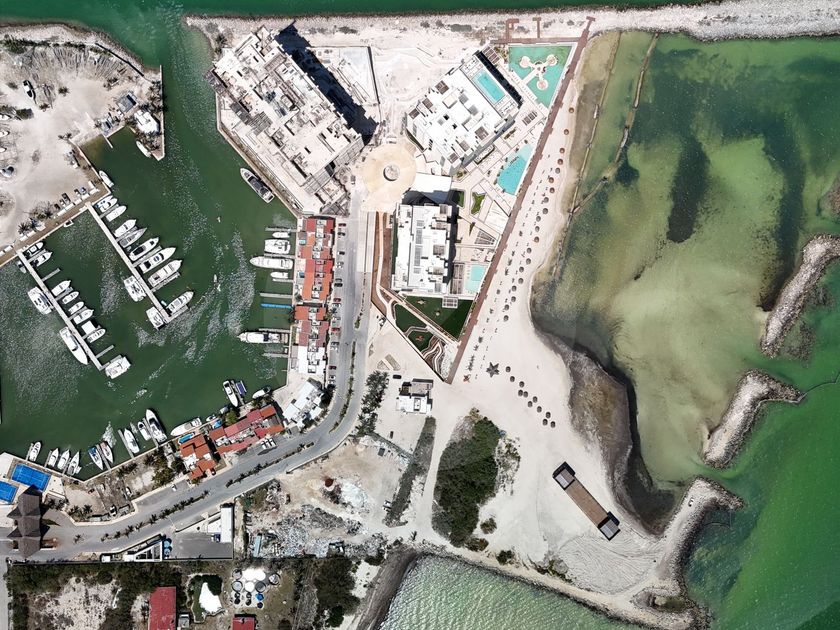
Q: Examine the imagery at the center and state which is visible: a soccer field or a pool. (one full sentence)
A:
There is a pool at the center.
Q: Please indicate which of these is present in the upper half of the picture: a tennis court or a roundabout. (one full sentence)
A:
The one visible in the upper half of the picture is a roundabout.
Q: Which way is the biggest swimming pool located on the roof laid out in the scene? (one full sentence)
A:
In this picture, the biggest swimming pool located on the roof lies at an angle.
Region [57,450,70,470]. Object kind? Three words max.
boat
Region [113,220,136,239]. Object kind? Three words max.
boat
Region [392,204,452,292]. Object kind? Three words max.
building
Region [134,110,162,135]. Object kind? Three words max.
house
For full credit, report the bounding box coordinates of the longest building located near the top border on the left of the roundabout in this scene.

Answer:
[213,26,365,192]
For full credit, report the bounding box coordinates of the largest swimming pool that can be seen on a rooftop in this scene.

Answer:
[478,73,505,103]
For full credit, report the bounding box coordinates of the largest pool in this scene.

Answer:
[508,45,573,108]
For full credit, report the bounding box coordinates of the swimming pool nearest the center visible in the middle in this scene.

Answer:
[465,265,486,292]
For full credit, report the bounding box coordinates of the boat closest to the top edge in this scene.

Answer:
[20,78,33,100]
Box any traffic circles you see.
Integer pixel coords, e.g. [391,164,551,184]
[362,148,417,212]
